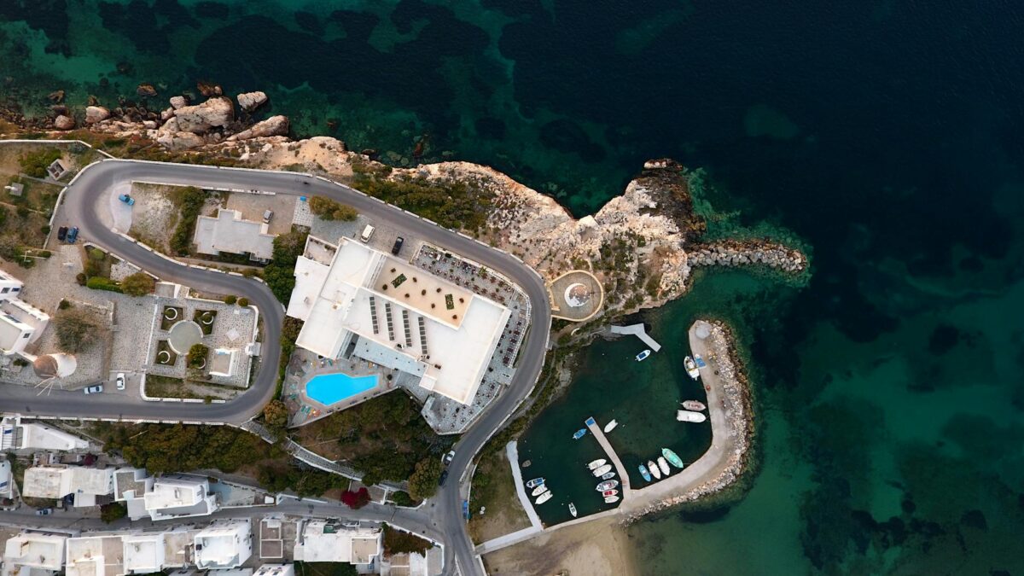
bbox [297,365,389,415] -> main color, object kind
blue swimming pool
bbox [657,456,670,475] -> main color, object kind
white boat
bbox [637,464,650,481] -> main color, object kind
blue boat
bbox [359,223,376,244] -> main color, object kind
white vehicle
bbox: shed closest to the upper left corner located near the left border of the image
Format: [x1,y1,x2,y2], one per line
[48,160,74,182]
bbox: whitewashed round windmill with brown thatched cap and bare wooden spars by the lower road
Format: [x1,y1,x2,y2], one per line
[28,353,78,393]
